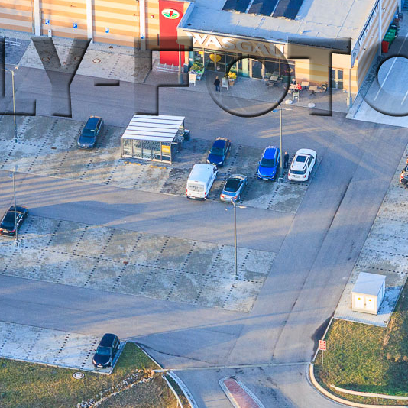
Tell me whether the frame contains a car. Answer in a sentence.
Yes, a car appears in the view.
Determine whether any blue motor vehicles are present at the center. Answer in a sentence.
Yes, there is a blue motor vehicle at the center.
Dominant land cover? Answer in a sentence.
The largest share of the image is taken up by paved ground.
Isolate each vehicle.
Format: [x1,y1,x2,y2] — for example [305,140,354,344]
[0,207,30,241]
[204,135,234,169]
[254,146,282,180]
[75,116,106,151]
[287,150,318,185]
[218,173,249,205]
[91,330,123,370]
[186,167,217,202]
